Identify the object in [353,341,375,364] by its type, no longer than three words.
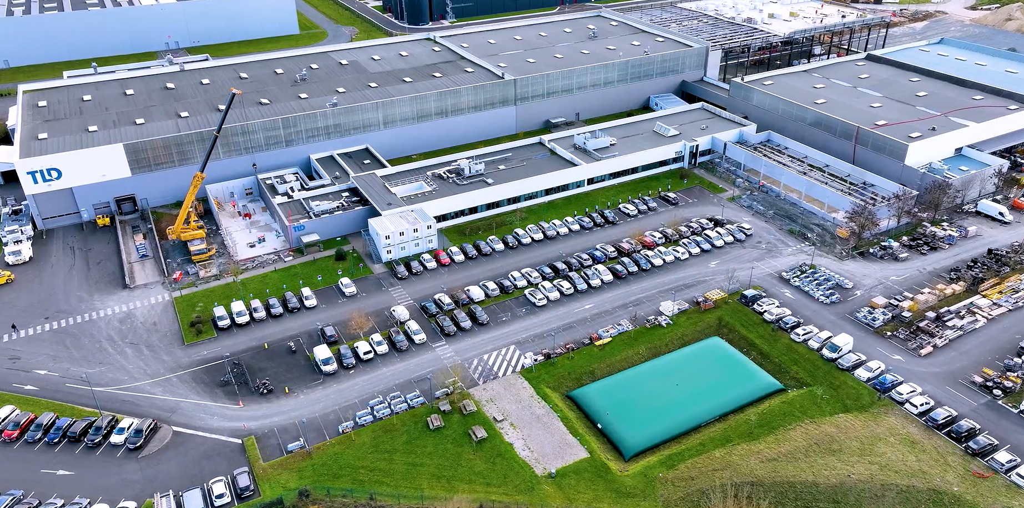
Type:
vehicle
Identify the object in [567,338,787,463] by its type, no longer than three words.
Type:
water tank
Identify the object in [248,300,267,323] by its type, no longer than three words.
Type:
car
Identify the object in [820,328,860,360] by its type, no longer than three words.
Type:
van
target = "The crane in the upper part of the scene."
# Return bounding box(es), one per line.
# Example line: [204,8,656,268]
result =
[167,88,256,262]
